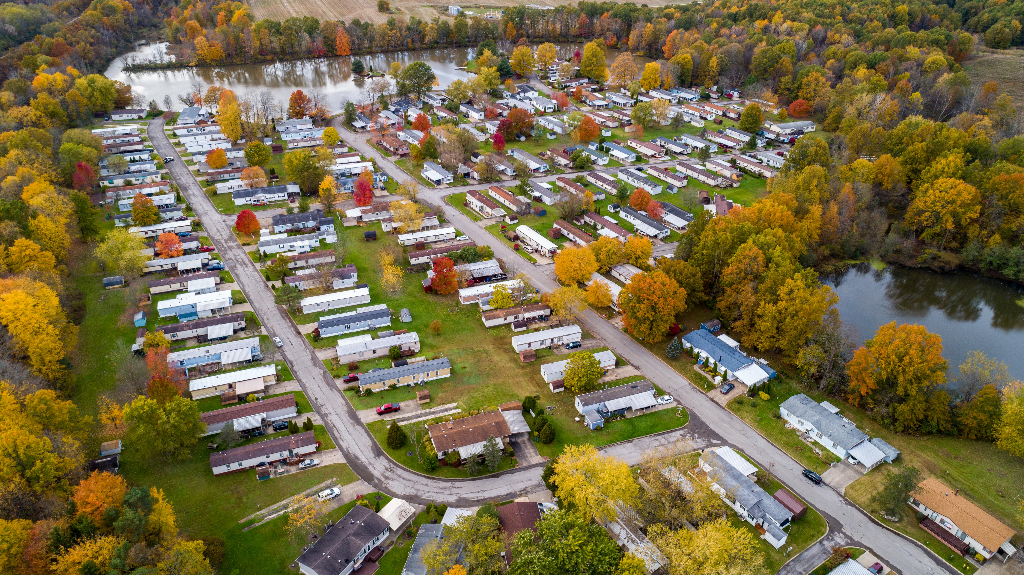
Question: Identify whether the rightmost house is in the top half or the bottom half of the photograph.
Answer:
bottom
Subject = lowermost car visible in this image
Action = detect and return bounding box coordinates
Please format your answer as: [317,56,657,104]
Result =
[868,561,891,574]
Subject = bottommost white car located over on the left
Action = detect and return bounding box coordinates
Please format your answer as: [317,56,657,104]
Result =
[316,487,340,502]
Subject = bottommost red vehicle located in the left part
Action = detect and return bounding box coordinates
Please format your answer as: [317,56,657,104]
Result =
[376,404,401,416]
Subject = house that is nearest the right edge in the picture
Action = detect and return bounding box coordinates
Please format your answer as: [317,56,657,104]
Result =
[910,477,1018,569]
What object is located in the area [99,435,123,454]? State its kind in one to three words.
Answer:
shed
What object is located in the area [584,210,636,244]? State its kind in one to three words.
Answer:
house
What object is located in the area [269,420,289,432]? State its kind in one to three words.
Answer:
vehicle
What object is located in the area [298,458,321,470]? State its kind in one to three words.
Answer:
vehicle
